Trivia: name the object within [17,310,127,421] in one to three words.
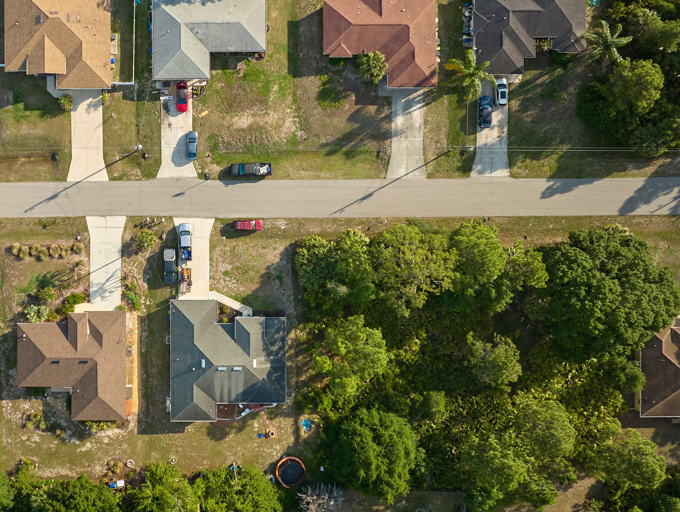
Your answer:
house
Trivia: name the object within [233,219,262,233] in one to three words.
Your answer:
car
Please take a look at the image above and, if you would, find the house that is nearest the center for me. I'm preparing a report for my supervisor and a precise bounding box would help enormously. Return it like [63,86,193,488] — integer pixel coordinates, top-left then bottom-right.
[170,300,287,421]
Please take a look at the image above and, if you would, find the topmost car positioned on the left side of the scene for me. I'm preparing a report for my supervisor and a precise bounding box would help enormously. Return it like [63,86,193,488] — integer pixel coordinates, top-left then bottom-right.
[176,82,189,112]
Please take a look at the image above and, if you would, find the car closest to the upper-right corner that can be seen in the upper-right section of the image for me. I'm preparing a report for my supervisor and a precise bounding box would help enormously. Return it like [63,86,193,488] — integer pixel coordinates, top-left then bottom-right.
[494,79,510,107]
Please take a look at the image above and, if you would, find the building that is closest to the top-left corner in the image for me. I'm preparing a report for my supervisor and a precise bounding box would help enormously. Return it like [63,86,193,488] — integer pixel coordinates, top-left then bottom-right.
[4,0,111,89]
